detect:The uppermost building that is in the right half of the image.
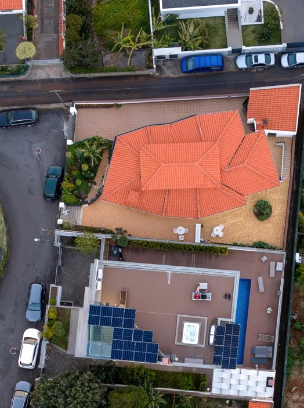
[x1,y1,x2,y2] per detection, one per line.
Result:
[160,0,263,51]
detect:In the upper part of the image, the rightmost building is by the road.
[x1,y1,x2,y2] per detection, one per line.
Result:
[245,85,301,141]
